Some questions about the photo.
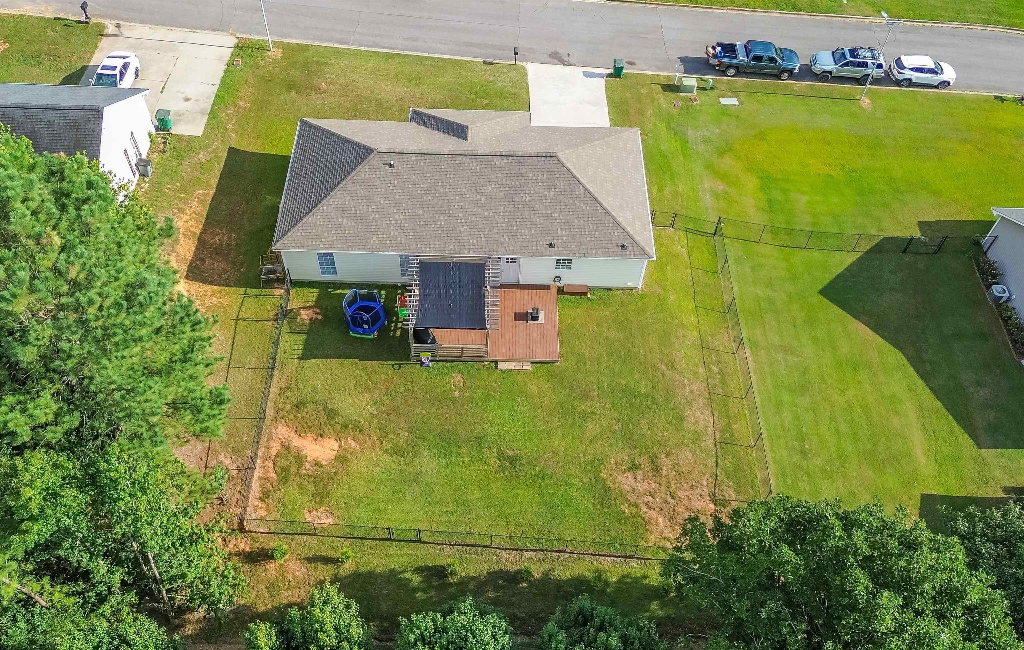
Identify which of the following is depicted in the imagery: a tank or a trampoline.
trampoline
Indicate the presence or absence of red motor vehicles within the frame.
No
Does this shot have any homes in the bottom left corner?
No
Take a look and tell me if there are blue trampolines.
Yes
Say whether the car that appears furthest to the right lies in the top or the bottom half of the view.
top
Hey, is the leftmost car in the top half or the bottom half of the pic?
top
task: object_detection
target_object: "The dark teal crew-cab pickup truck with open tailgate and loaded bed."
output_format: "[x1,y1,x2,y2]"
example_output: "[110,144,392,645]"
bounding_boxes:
[706,42,802,81]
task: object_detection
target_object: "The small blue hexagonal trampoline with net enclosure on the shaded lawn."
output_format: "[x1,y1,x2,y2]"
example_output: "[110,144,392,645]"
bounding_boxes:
[344,290,388,340]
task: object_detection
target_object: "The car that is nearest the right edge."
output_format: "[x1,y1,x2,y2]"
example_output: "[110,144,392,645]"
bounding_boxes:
[886,54,956,89]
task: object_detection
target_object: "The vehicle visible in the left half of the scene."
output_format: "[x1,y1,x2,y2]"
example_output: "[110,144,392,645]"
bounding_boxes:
[91,51,138,88]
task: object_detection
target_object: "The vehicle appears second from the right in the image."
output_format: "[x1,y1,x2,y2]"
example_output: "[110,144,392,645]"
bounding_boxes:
[808,46,884,85]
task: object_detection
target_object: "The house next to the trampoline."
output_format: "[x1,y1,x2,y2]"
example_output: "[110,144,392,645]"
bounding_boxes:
[270,107,656,290]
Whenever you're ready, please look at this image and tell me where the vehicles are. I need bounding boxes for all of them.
[706,42,802,81]
[808,46,884,85]
[886,54,956,89]
[91,51,138,88]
